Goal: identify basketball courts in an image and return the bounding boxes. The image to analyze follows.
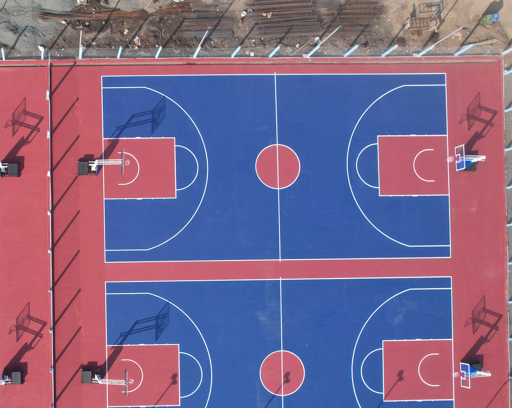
[102,74,451,262]
[106,277,454,408]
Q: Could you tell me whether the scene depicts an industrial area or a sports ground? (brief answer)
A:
sports ground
